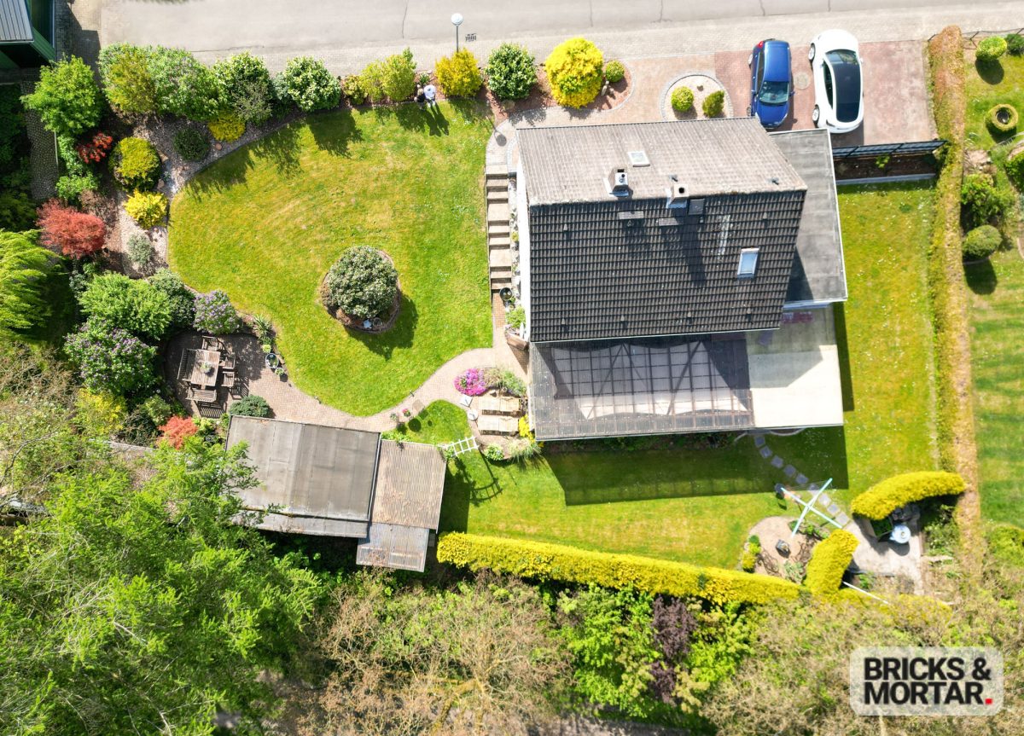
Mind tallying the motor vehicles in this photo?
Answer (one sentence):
The count of motor vehicles comes to 2.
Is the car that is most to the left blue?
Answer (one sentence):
Yes, the car that is most to the left appears blue.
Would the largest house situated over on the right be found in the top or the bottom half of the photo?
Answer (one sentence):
You can find the largest house situated over on the right in the top half.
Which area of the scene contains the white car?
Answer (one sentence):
You can find the white car in the top right area of the picture.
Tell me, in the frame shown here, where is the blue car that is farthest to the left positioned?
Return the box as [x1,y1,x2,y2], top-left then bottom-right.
[742,39,796,131]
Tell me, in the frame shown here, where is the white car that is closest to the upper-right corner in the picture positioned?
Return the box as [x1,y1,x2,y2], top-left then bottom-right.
[805,30,866,136]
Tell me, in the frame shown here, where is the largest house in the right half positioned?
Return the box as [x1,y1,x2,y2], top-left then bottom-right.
[517,111,810,347]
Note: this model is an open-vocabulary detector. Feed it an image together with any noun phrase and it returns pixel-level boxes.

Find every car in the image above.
[742,39,796,131]
[805,30,866,136]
